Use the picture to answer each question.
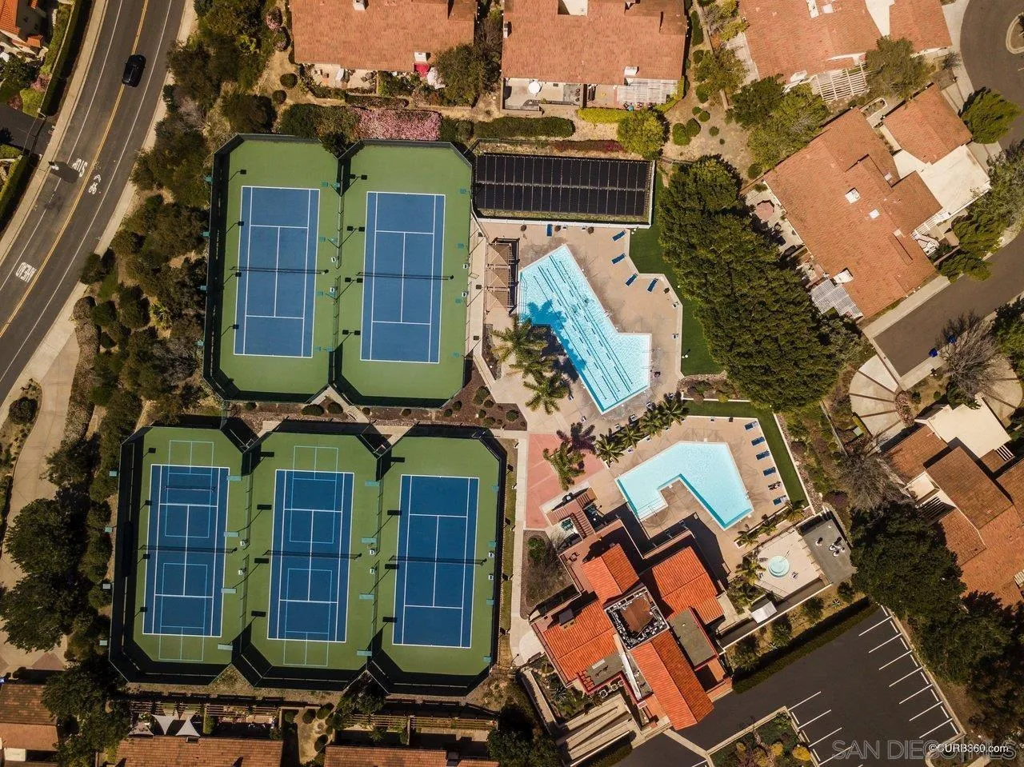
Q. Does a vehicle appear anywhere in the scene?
Yes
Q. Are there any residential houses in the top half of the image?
Yes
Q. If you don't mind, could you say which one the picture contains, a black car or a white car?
black car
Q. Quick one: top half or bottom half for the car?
top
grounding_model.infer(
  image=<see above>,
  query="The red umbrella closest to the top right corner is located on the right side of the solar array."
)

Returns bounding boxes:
[752,199,773,220]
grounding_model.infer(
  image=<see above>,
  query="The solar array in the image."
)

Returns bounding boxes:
[474,155,647,216]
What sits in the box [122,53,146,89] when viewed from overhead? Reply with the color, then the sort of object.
black car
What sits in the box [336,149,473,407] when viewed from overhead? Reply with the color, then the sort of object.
green tennis court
